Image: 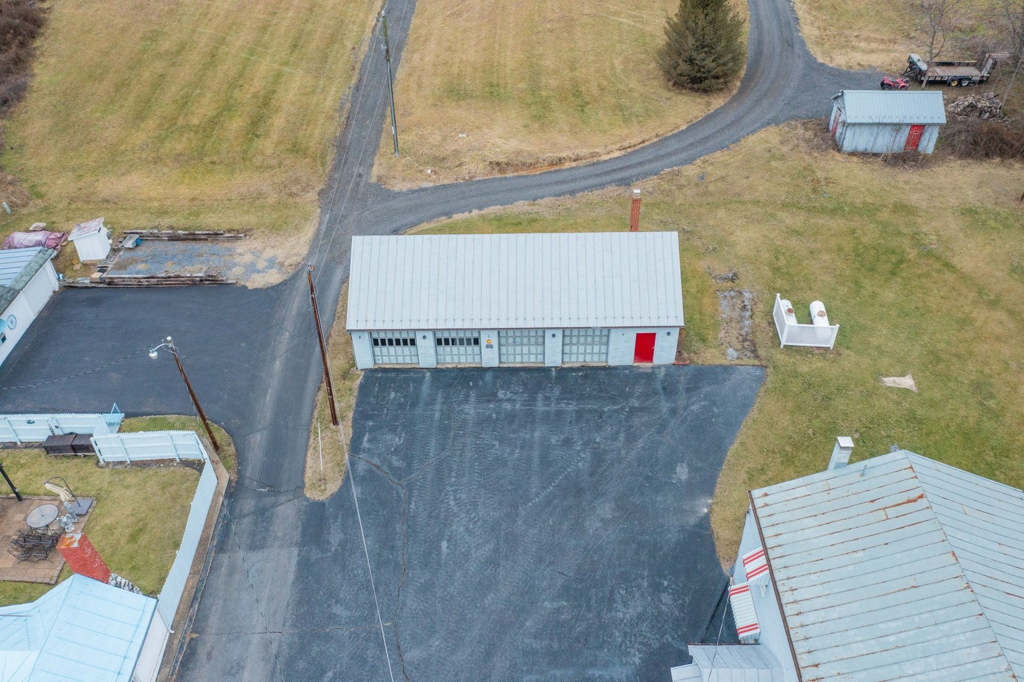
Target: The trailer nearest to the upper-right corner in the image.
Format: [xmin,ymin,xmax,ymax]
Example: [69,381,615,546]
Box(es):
[900,44,1001,84]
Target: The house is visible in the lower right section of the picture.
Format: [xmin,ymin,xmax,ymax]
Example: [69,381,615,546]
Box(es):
[674,435,1024,682]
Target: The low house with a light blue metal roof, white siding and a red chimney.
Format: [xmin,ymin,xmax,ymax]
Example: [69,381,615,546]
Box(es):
[0,531,171,682]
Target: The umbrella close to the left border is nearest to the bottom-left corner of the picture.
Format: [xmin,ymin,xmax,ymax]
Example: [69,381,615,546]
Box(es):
[28,471,93,515]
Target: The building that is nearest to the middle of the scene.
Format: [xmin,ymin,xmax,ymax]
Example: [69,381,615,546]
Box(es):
[347,189,684,369]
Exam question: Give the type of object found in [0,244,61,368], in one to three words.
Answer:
building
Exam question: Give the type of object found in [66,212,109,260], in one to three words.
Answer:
shed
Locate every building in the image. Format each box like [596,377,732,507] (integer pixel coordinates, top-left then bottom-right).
[825,90,949,152]
[674,435,1024,682]
[66,212,109,260]
[347,189,684,369]
[0,531,171,682]
[0,244,61,368]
